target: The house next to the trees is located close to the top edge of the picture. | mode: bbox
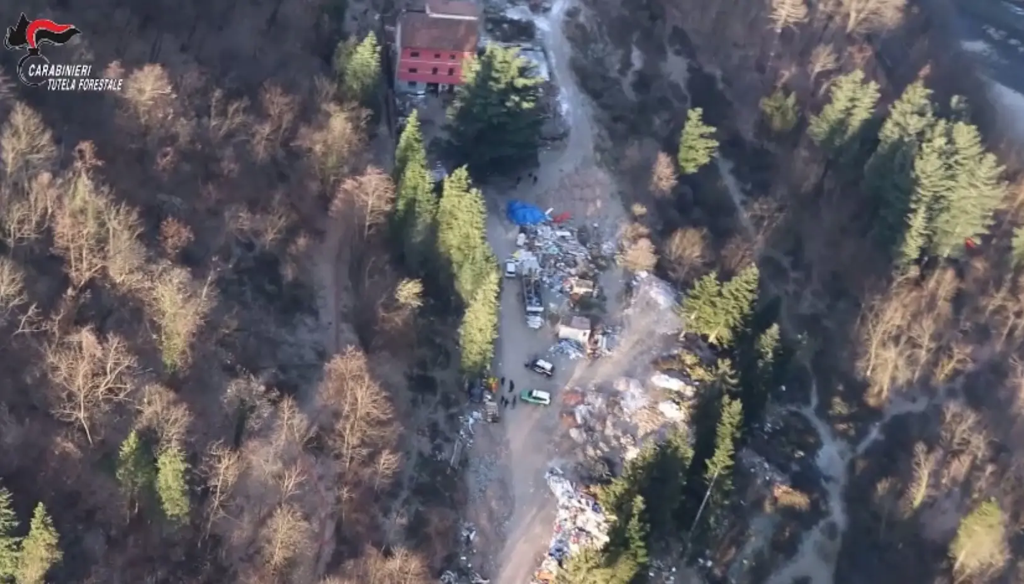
[398,0,489,99]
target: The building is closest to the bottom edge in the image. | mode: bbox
[559,310,594,343]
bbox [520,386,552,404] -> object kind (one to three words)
car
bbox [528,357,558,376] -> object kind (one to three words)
car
